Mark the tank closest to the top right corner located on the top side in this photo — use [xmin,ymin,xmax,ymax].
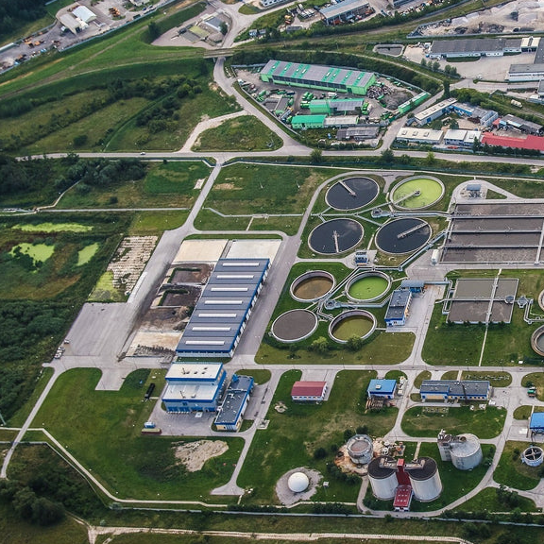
[390,176,446,211]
